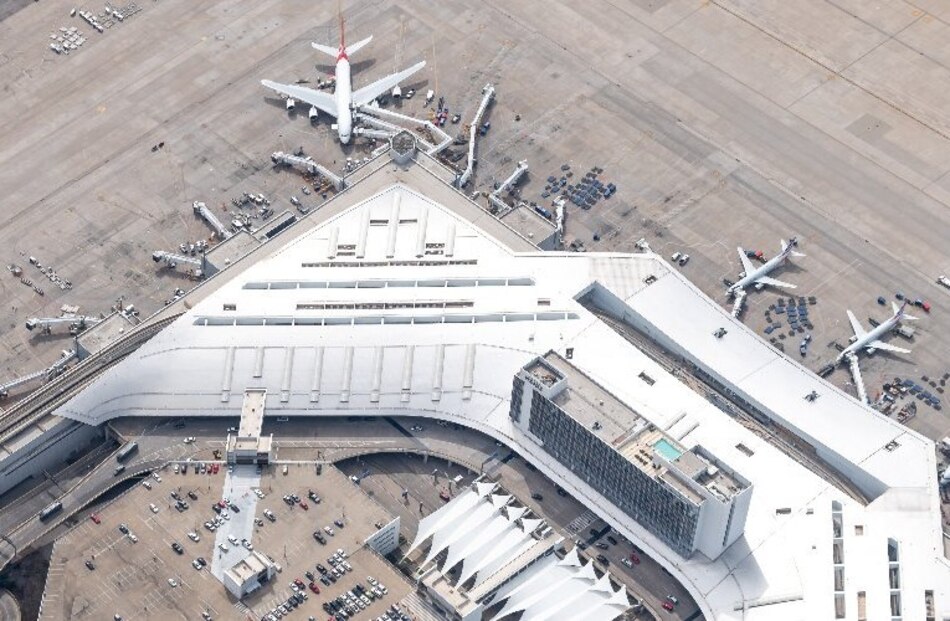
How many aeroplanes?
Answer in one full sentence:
Looking from above, you can make out 3 aeroplanes.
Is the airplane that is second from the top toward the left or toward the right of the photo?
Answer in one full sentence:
You can find the airplane that is second from the top on the right side of the picture.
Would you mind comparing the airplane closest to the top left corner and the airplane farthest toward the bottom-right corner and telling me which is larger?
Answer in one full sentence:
The airplane farthest toward the bottom-right corner is smaller than the airplane closest to the top left corner.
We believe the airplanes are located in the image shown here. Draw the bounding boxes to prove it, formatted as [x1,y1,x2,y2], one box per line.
[260,17,424,146]
[725,236,805,295]
[837,299,917,361]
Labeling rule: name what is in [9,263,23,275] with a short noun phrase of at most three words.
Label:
vehicle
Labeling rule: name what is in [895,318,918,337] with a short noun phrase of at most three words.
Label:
vehicle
